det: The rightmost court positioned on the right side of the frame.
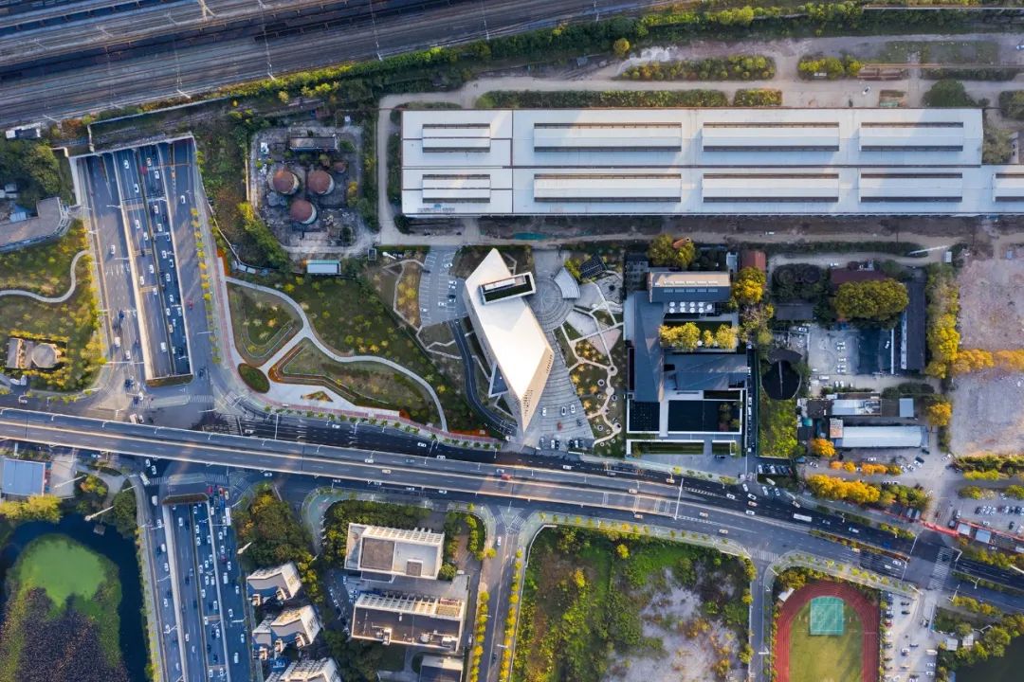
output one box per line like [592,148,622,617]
[811,598,844,636]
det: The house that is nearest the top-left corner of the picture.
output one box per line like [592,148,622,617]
[5,127,44,142]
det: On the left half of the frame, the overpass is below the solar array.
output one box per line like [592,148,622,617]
[0,408,679,519]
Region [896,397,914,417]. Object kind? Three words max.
shed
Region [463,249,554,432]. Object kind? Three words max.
building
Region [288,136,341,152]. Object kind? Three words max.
shed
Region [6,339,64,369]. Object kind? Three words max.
building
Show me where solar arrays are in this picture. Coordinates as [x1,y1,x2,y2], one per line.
[579,254,607,279]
